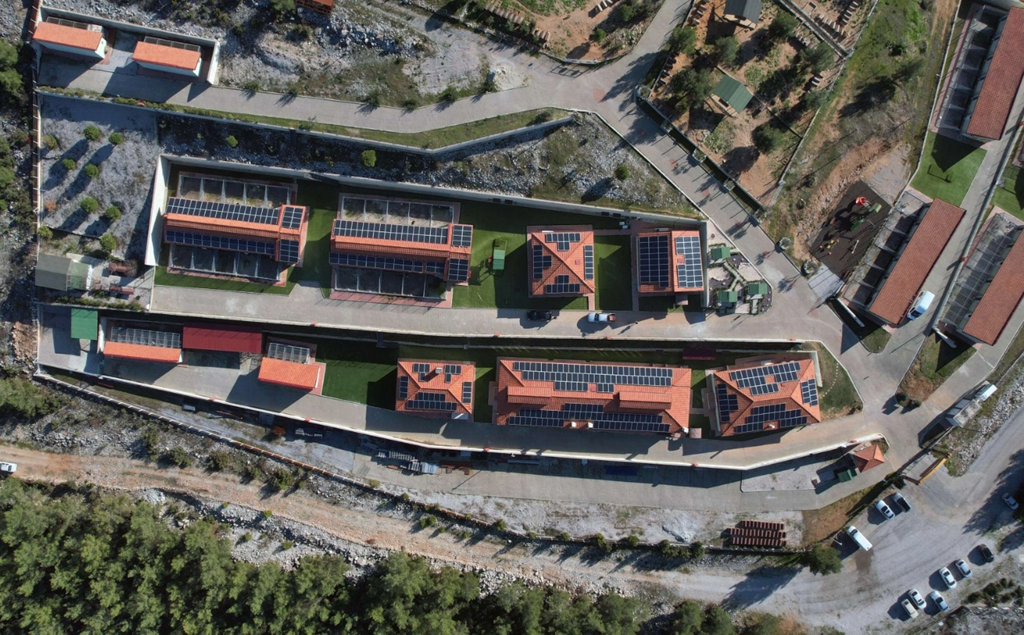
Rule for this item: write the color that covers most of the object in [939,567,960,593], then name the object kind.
white car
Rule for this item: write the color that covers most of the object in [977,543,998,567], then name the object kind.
black car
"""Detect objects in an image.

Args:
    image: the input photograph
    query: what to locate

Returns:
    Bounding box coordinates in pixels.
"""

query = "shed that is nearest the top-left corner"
[33,13,109,55]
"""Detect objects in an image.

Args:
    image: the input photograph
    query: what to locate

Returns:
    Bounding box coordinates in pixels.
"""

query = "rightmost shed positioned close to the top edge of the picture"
[916,0,1024,155]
